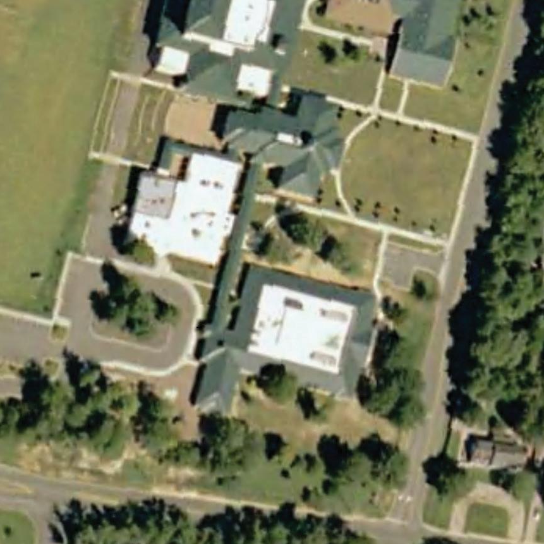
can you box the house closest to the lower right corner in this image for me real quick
[470,429,527,467]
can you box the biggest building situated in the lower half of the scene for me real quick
[200,262,375,398]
